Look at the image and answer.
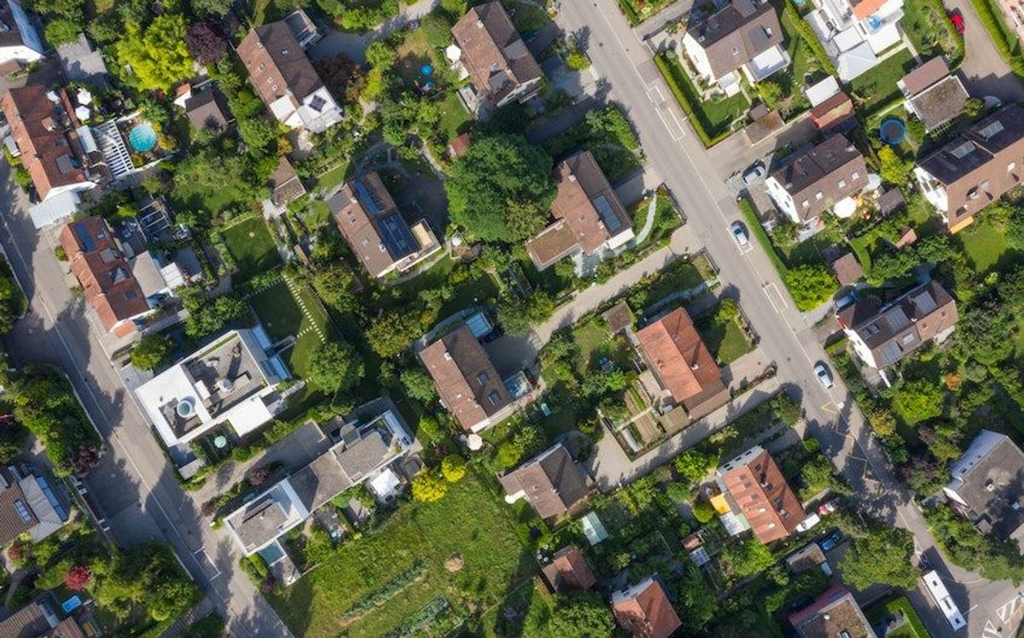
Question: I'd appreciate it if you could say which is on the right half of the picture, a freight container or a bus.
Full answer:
It is a bus that can be seen on the right half of the picture.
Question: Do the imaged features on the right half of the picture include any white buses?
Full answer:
Yes, on the right half of the picture there is a white bus.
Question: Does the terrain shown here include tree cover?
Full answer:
Yes, tree cover shows up in the scene.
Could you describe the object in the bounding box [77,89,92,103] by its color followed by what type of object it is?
white umbrella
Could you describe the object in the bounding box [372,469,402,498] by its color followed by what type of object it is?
white gazebo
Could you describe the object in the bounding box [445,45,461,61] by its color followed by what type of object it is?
white umbrella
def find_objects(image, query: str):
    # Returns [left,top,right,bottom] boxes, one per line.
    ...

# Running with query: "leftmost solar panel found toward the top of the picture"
[76,228,100,256]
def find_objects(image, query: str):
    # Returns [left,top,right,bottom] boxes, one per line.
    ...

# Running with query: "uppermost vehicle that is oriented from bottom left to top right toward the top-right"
[739,163,766,185]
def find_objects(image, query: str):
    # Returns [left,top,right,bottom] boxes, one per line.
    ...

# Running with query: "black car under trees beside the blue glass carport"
[479,328,506,347]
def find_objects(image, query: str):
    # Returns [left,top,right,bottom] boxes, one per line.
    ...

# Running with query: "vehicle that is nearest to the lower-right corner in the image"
[918,563,967,635]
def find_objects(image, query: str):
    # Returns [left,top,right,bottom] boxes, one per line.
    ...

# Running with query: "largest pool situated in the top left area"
[127,121,160,151]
